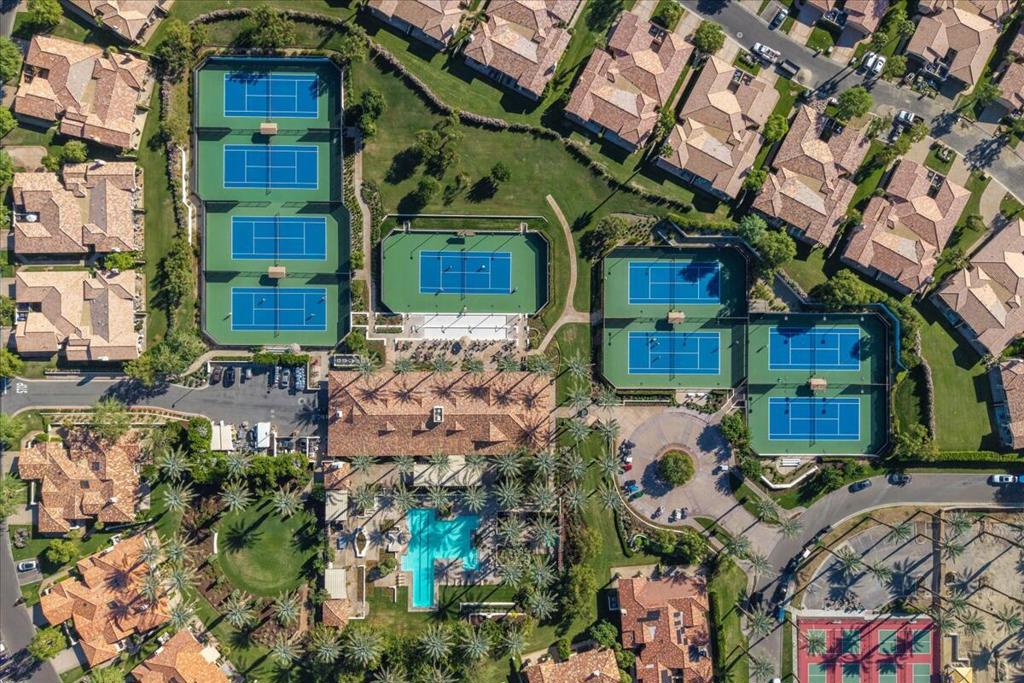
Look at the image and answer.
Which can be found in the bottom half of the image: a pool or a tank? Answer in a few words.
pool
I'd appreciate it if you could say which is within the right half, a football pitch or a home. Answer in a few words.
home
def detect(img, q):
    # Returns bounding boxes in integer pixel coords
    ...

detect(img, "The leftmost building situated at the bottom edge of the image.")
[39,532,174,667]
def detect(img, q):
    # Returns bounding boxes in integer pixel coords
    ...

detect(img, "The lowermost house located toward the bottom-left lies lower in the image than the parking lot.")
[128,628,260,683]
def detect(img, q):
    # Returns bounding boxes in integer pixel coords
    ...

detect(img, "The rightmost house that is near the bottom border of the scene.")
[615,577,713,683]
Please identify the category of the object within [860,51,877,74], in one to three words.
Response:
vehicle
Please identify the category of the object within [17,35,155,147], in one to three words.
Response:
house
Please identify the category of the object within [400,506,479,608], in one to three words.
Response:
swimming pool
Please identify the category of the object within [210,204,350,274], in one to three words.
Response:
tennis court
